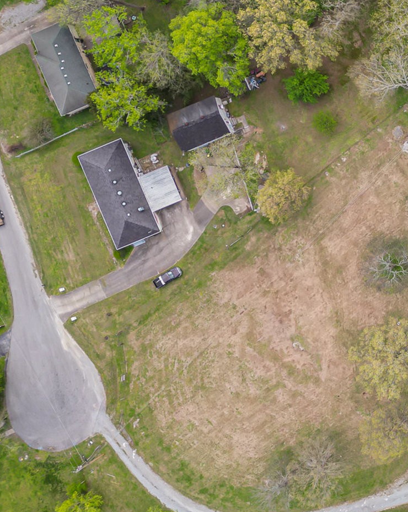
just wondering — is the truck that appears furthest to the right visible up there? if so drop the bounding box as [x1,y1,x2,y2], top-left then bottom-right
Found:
[151,265,185,289]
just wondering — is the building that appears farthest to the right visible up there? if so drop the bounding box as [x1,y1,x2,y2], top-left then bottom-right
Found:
[167,96,235,151]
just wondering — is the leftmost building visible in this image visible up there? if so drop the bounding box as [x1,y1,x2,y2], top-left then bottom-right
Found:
[31,22,100,116]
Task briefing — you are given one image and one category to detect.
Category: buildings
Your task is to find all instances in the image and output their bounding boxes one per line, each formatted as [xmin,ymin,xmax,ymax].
[167,96,235,151]
[78,139,166,249]
[31,22,100,116]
